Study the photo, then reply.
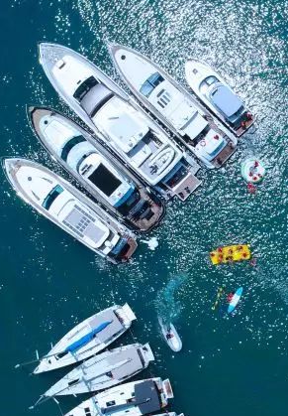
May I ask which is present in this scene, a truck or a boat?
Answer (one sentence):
There is a boat in the scene.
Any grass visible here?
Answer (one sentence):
No, there is no grass in the image.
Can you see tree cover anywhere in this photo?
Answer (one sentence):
No, there is no tree cover in the image.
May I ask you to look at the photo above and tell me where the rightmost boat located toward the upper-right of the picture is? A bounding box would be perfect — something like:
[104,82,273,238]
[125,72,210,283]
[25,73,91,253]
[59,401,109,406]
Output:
[185,59,254,134]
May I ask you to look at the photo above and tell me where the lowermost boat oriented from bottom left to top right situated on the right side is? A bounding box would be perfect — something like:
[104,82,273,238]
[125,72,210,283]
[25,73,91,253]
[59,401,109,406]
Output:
[228,288,243,313]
